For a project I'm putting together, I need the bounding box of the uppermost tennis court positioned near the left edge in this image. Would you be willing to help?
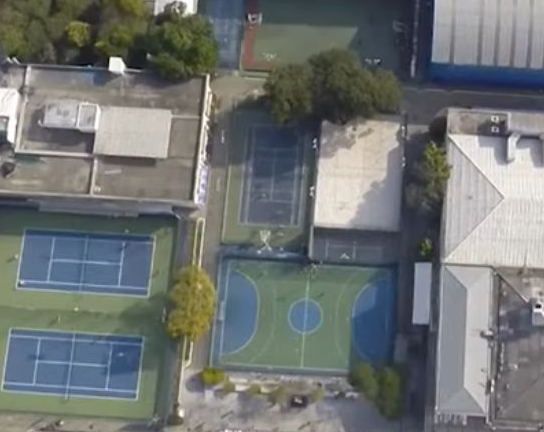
[0,210,179,316]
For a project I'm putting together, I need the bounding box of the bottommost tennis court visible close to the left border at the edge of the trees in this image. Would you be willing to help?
[0,307,172,421]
